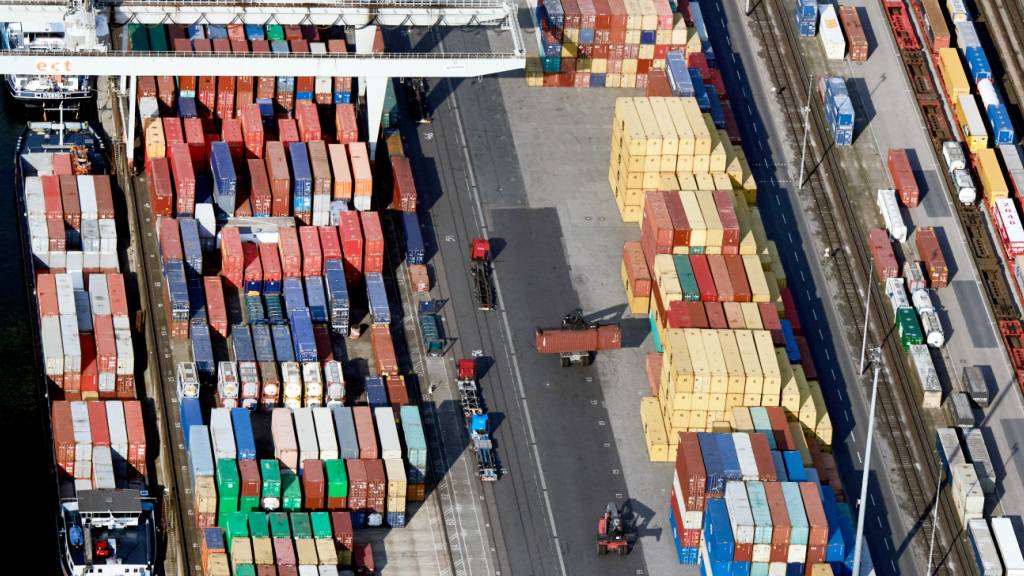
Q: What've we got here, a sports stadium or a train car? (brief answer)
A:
train car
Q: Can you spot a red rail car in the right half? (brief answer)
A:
Yes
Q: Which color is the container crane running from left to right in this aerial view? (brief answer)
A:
white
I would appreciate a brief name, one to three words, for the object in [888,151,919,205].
shipping container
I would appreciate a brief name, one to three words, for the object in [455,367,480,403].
truck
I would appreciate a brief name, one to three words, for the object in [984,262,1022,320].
rail car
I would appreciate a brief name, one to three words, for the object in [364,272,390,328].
shipping container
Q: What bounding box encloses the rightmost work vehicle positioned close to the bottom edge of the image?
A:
[593,491,632,557]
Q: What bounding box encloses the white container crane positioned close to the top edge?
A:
[0,0,528,167]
